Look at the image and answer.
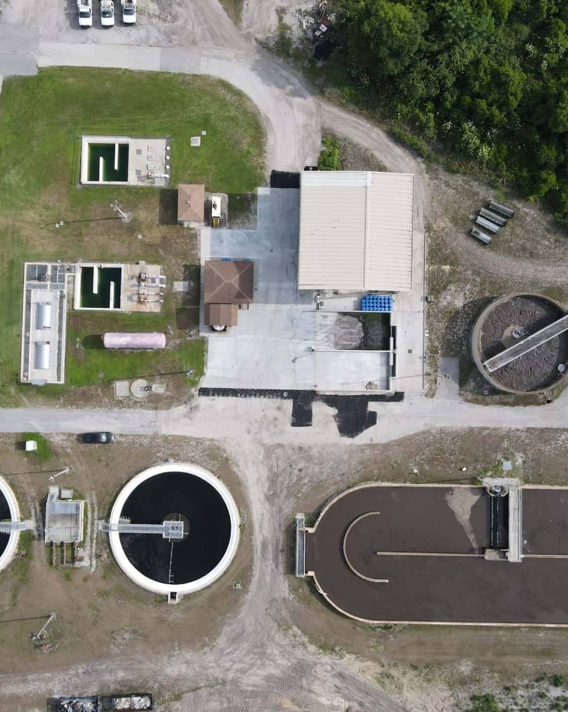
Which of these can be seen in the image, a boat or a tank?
tank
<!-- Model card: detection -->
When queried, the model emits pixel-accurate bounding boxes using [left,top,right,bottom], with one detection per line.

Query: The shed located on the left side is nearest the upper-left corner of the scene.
[178,185,204,223]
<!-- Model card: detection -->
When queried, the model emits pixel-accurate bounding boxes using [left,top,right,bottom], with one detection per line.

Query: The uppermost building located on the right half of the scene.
[298,171,413,291]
